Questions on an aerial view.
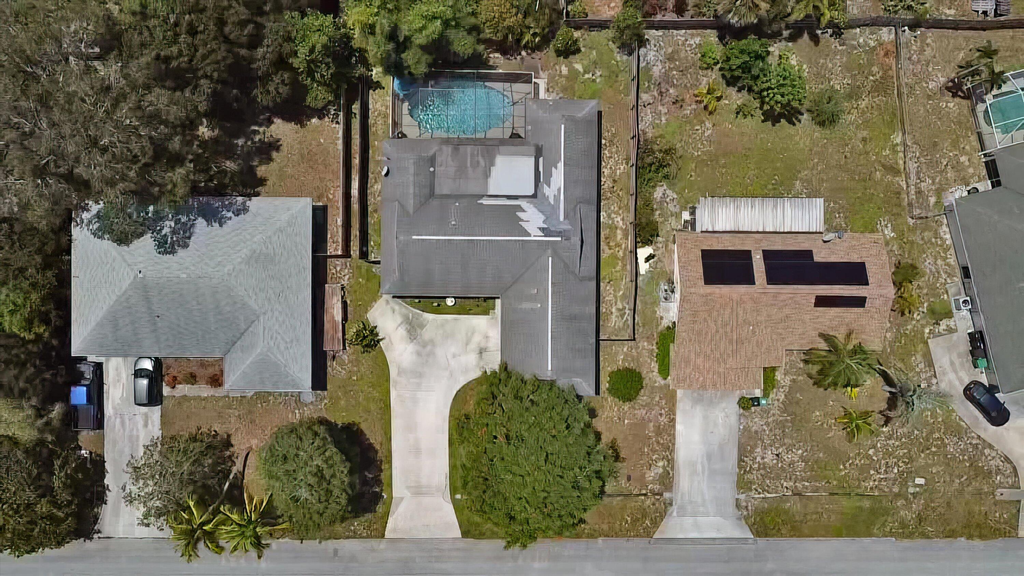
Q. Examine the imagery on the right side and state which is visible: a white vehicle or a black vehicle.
black vehicle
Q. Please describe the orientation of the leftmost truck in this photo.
vertically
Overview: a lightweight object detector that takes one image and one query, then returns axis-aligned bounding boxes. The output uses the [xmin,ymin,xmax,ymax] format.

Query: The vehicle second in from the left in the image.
[130,358,161,409]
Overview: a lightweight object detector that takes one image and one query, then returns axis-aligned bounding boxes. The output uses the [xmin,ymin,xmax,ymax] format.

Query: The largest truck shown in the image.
[67,360,103,432]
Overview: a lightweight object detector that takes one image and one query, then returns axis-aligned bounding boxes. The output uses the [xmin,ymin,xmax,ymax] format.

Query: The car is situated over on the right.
[963,377,1012,431]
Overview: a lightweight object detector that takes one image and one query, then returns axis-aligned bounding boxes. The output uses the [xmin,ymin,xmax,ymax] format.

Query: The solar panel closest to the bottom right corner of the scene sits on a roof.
[814,296,867,308]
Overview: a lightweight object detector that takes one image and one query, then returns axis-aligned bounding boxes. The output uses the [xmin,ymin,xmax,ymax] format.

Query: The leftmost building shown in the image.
[71,197,313,393]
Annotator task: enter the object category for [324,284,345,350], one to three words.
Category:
shed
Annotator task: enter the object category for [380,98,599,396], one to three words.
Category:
house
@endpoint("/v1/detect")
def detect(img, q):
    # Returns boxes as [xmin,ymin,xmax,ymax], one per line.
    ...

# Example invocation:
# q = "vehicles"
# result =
[130,358,161,409]
[67,360,103,432]
[963,377,1012,431]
